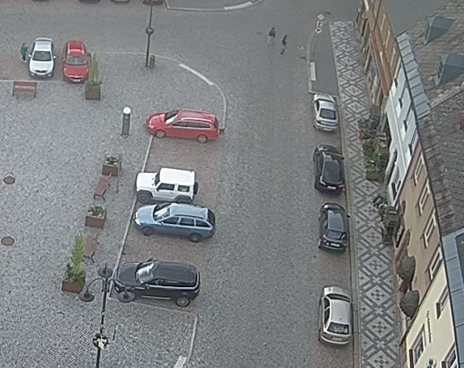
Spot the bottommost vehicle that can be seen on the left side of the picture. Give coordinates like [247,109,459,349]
[116,263,198,305]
